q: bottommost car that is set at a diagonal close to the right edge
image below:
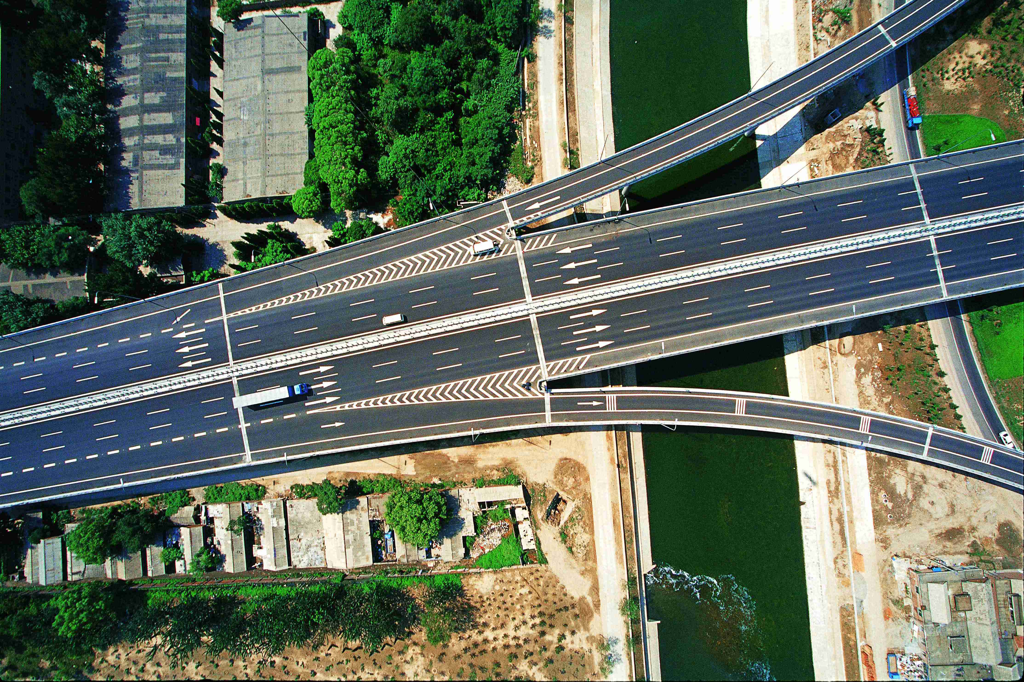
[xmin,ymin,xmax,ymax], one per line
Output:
[997,430,1012,447]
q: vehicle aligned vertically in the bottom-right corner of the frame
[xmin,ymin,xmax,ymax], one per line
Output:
[886,654,900,679]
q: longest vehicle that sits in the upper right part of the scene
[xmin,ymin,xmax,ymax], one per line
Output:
[901,88,922,126]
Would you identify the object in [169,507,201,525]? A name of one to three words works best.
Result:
house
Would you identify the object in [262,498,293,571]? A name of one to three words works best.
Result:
house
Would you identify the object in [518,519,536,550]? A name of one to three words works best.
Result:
shed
